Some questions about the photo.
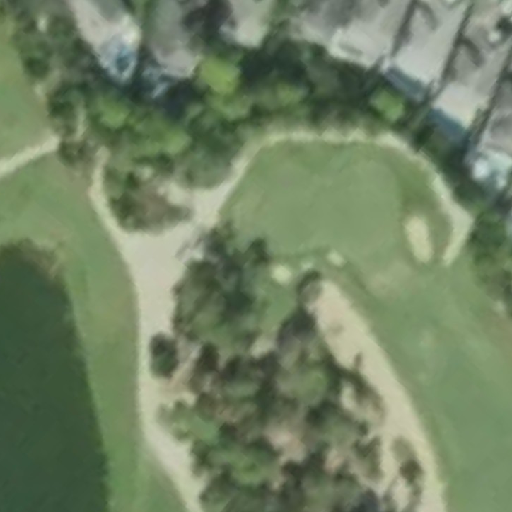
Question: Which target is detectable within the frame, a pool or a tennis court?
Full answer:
This aerial view contains a pool.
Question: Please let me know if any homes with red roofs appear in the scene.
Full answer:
No, the scene contains no home with a red roof.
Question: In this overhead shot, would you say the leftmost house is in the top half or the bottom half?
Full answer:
The leftmost house is in the top half of the image.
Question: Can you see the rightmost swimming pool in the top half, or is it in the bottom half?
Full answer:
You can find the rightmost swimming pool in the top half.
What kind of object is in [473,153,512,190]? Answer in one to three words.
swimming pool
